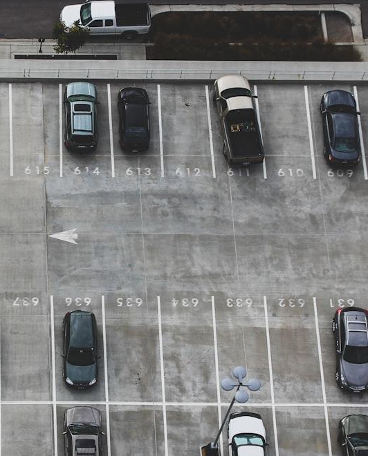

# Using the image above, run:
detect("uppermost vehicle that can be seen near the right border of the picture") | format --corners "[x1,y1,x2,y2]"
[314,90,359,167]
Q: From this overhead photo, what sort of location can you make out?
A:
parking lot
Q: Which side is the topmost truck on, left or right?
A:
left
